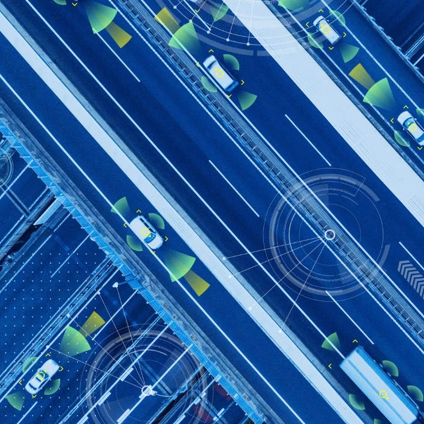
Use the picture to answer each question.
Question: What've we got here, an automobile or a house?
automobile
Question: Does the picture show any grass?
No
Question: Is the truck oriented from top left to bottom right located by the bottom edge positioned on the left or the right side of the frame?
right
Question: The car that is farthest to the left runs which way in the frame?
diagonally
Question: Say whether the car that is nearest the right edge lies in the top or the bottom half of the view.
top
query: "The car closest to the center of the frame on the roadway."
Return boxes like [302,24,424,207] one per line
[128,213,166,250]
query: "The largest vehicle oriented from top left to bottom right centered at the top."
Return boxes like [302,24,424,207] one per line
[203,55,239,93]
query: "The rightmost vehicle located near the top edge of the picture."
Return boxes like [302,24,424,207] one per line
[313,15,342,45]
